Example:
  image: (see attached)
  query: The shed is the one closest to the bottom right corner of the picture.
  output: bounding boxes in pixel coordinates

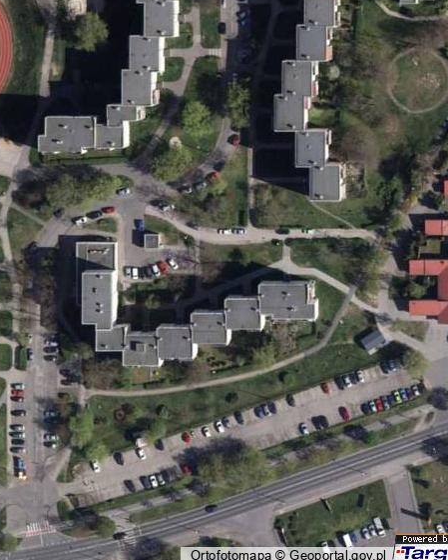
[361,331,385,355]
